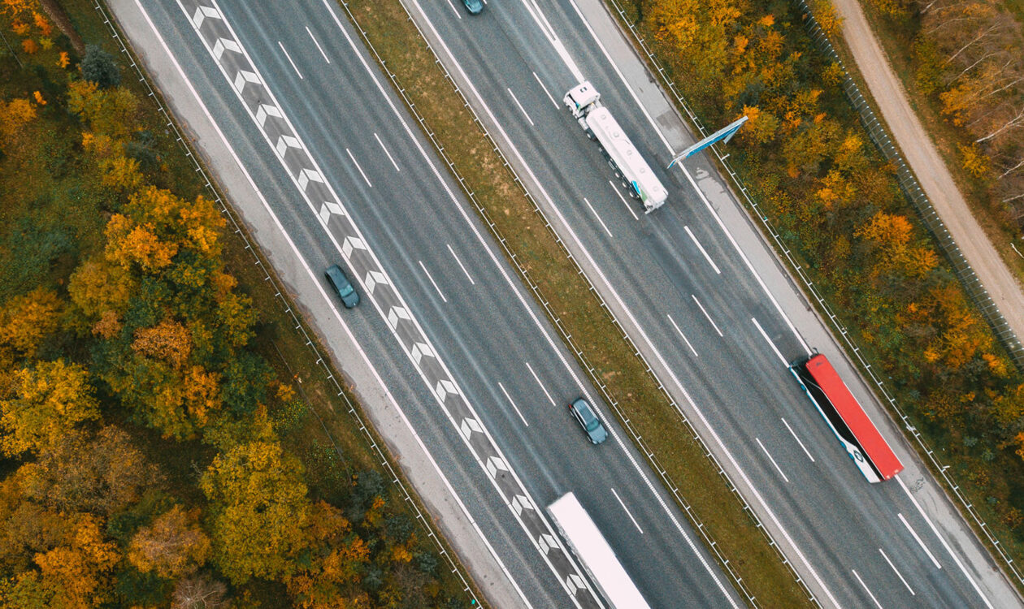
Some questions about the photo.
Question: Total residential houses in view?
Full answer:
Not a single residential house can be seen.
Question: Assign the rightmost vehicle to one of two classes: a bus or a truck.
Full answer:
It turns out the rightmost vehicle is a bus.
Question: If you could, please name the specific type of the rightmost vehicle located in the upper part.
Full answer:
The rightmost vehicle located in the upper part is a truck.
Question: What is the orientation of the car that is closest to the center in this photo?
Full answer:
The car that is closest to the center is laid out diagonally.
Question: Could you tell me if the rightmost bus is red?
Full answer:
Yes, the rightmost bus appears red.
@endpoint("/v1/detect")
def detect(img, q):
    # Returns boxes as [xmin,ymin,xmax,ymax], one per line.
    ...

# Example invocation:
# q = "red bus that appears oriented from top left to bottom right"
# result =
[789,347,907,483]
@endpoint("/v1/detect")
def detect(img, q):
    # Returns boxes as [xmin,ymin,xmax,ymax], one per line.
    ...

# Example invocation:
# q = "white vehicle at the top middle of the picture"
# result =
[562,76,668,214]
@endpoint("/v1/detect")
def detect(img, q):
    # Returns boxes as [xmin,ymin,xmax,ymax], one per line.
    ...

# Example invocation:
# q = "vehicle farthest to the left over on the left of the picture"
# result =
[325,265,361,308]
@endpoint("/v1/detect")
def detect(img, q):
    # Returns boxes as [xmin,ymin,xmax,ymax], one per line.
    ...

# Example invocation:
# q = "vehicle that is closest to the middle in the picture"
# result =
[569,396,608,443]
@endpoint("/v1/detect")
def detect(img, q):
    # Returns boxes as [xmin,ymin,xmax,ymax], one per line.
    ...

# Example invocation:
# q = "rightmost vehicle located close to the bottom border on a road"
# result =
[548,492,650,609]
